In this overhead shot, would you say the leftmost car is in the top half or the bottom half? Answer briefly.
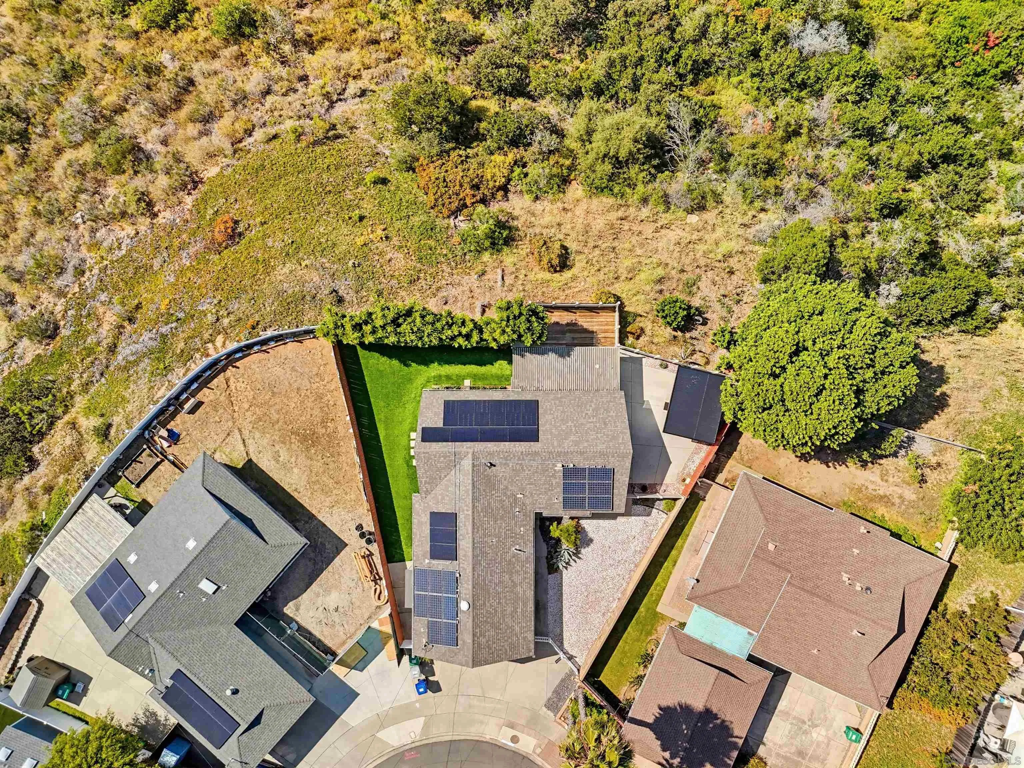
bottom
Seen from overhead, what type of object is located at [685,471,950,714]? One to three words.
house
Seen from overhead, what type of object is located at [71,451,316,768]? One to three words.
house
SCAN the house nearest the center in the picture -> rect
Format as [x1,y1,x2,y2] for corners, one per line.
[412,390,633,668]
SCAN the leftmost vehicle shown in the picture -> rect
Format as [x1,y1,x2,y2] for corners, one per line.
[155,732,197,768]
